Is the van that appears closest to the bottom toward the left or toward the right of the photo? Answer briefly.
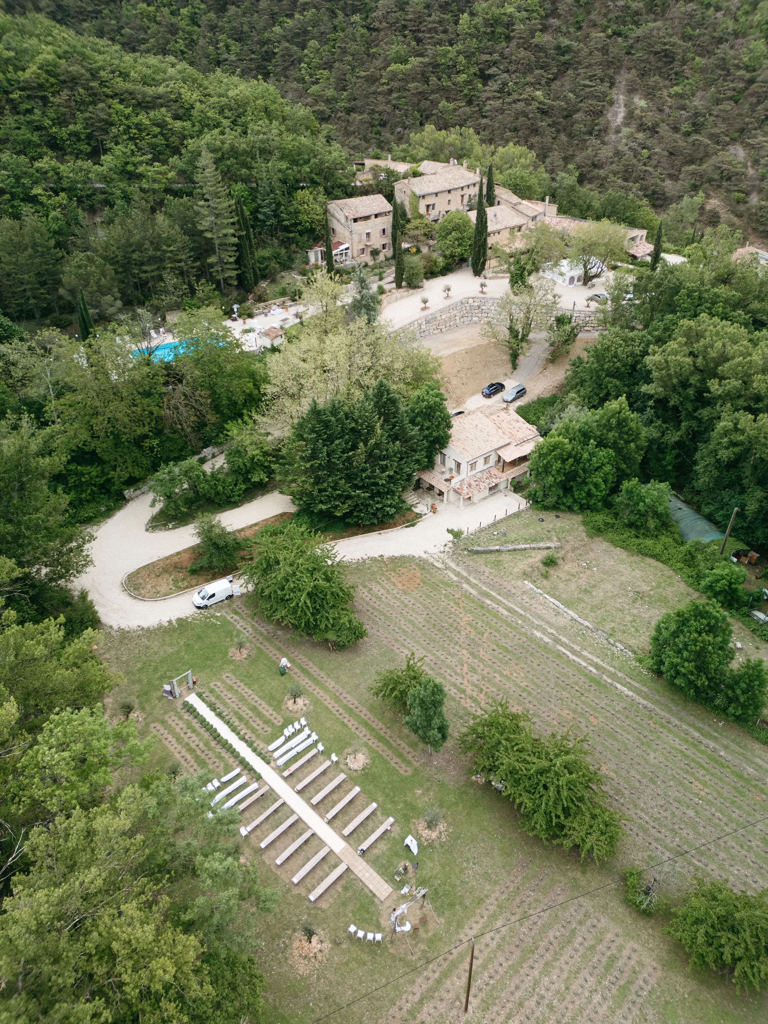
left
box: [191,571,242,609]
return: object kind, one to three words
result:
van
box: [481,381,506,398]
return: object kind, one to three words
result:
car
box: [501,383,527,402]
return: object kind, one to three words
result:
car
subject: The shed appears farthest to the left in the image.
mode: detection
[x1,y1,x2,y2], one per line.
[258,322,284,343]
